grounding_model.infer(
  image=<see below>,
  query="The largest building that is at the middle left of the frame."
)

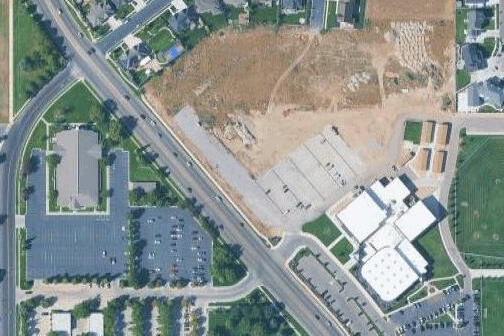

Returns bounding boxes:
[53,127,101,211]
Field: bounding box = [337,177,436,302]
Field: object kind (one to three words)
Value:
building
